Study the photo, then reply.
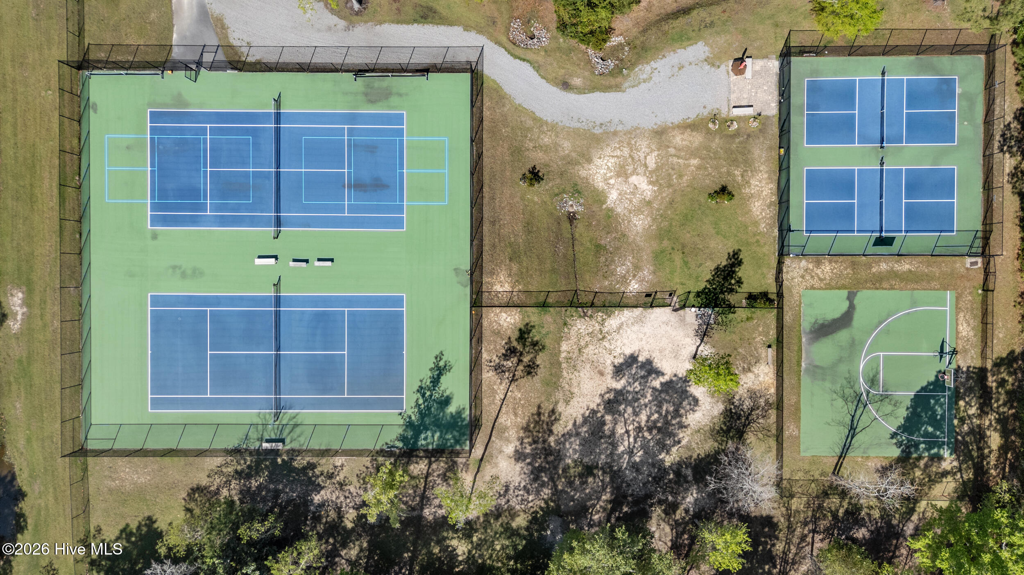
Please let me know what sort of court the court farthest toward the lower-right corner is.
basketball court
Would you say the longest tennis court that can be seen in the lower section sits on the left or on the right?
left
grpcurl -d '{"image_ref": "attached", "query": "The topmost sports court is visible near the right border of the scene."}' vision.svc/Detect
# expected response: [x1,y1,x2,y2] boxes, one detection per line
[779,55,985,156]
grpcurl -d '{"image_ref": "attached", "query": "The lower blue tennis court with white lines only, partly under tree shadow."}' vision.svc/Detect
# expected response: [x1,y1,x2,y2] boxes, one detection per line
[81,262,470,450]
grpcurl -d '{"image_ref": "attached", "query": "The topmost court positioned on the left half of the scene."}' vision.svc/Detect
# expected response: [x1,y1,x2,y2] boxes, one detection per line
[80,72,470,262]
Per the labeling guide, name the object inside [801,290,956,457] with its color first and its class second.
green basketball court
